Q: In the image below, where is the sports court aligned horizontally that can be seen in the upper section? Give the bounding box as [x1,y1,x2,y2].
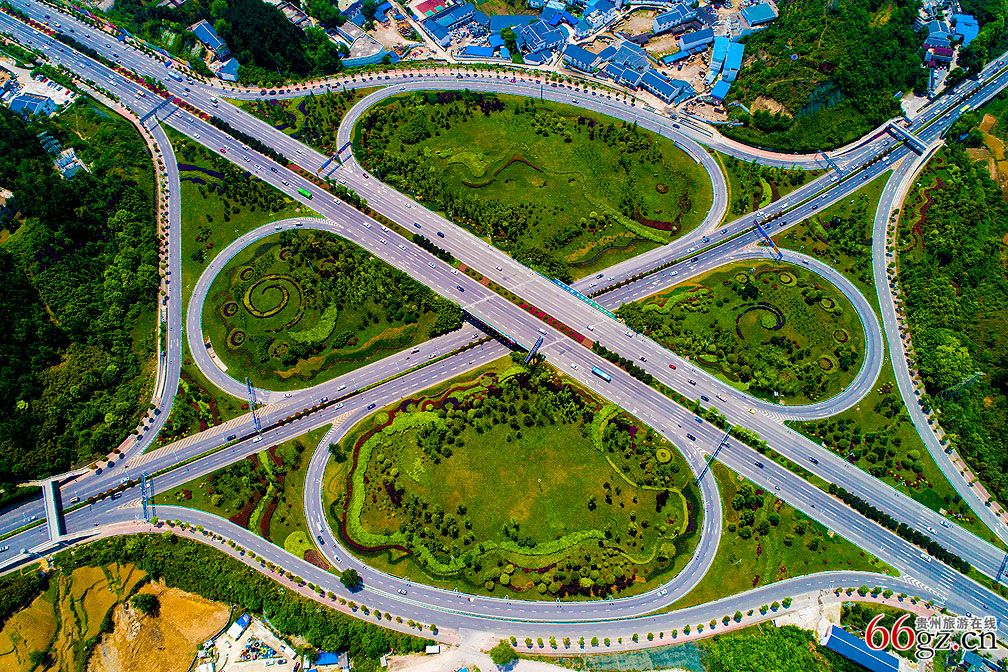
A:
[407,0,462,21]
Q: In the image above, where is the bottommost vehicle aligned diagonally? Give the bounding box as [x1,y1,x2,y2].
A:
[282,642,297,658]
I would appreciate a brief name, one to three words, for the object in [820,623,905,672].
building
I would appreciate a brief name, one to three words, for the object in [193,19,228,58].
house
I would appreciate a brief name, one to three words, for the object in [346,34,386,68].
building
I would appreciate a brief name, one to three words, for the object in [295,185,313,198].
vehicle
